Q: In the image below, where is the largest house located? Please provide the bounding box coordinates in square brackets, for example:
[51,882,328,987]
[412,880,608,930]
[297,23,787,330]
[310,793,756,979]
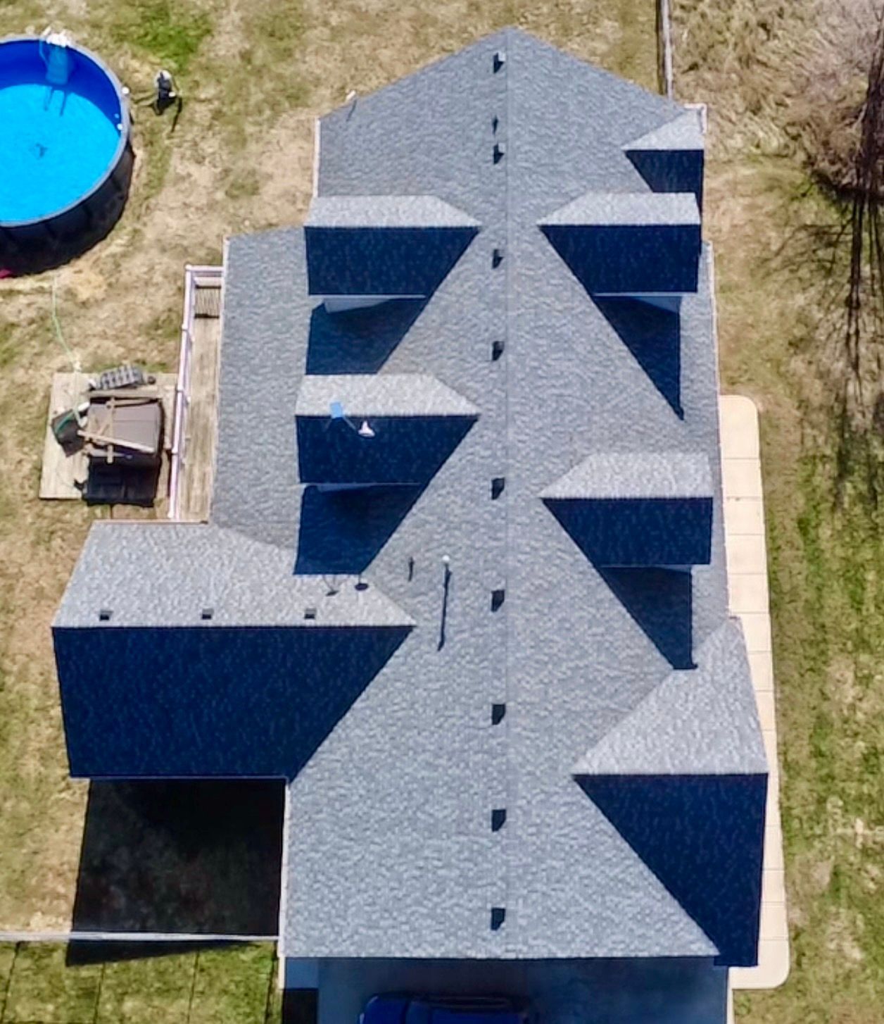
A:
[54,26,768,968]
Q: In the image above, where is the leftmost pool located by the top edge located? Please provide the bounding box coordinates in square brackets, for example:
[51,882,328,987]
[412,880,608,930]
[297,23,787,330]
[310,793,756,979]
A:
[0,38,134,236]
